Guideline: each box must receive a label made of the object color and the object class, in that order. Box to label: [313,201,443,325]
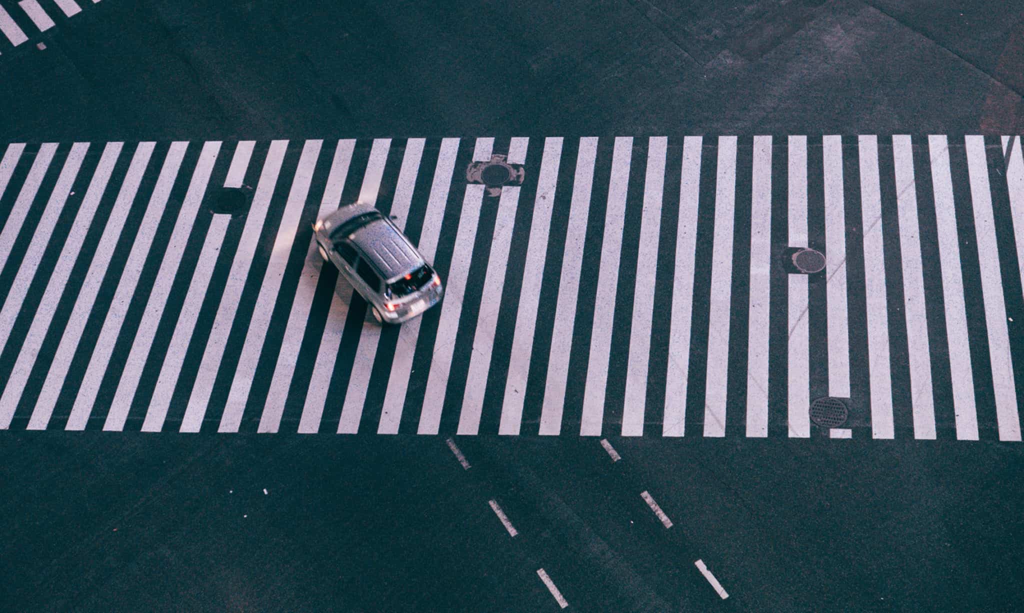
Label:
gray car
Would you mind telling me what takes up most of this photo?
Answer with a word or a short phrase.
paved ground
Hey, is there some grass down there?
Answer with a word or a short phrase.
No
